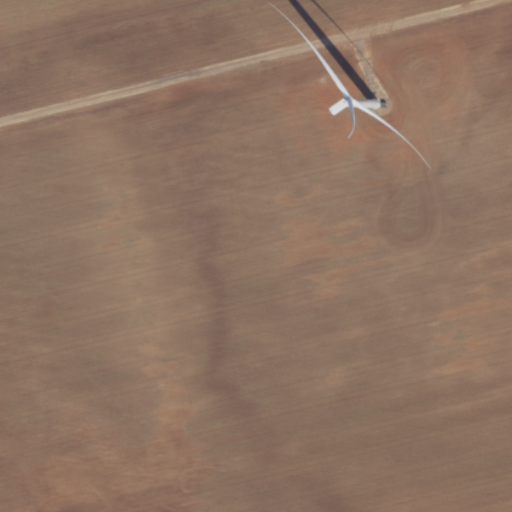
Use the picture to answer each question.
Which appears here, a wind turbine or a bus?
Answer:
wind turbine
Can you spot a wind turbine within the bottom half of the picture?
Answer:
No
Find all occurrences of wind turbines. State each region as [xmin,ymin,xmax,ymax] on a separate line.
[270,2,428,166]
